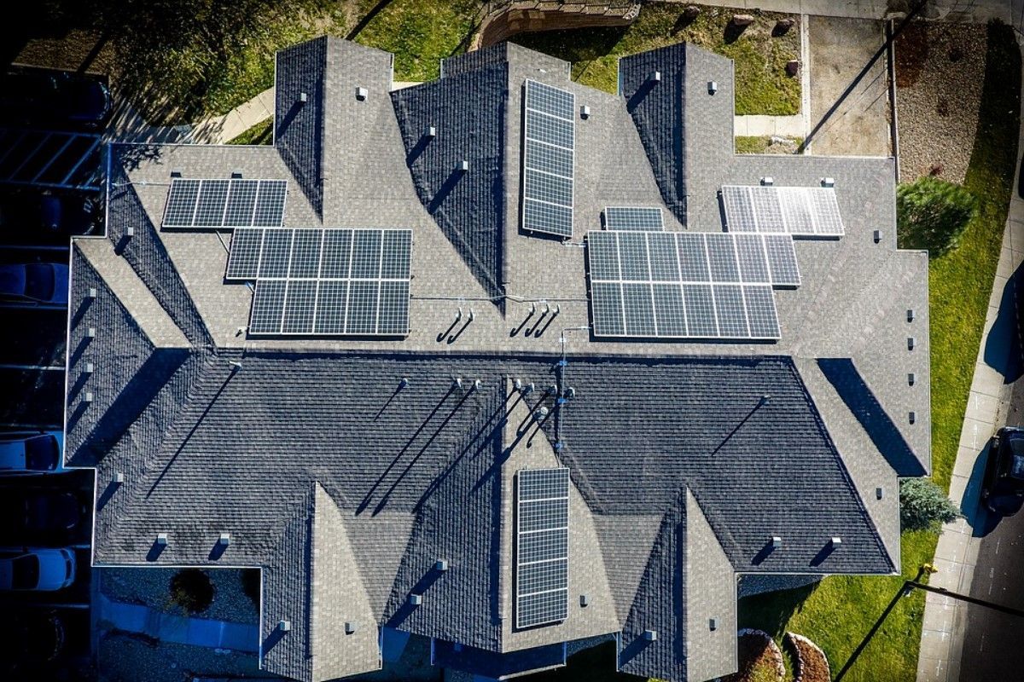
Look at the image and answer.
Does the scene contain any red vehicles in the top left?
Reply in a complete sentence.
No, there is no red vehicle in the top left.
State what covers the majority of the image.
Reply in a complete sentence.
The largest share of the image is taken up by buildings.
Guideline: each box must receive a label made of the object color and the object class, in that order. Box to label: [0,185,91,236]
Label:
black car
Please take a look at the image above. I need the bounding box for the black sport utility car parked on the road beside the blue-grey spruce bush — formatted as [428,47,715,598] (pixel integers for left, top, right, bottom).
[975,417,1024,517]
